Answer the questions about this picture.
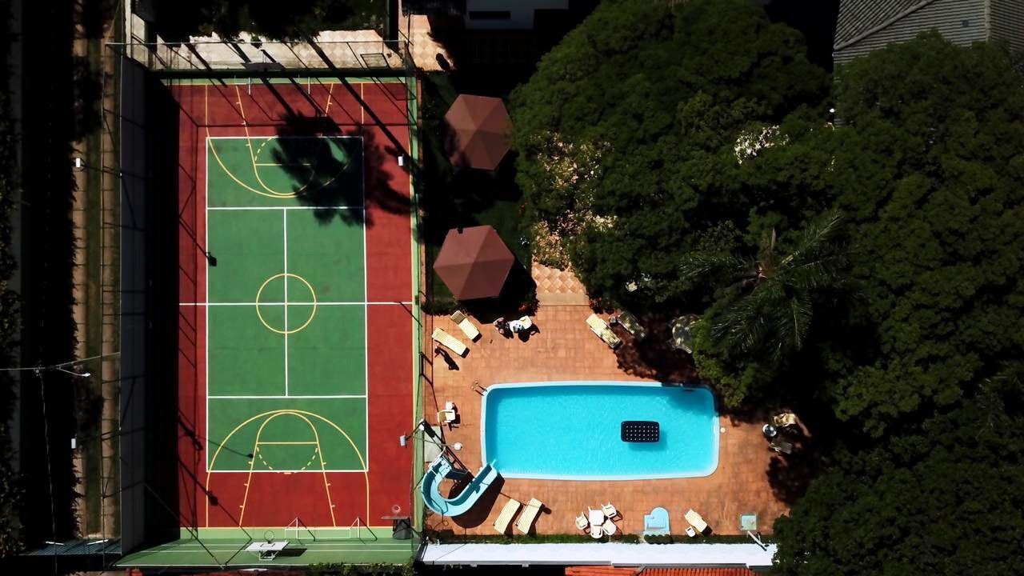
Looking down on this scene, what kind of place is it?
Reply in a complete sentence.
The area seen from above is a sports ground.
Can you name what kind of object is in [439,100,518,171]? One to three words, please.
umbrella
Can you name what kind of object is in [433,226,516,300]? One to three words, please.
umbrella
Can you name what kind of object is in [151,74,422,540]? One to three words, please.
sports court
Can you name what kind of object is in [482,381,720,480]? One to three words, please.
swimming pool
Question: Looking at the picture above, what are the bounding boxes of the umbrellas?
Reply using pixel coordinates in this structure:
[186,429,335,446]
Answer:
[439,100,518,171]
[433,226,516,300]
